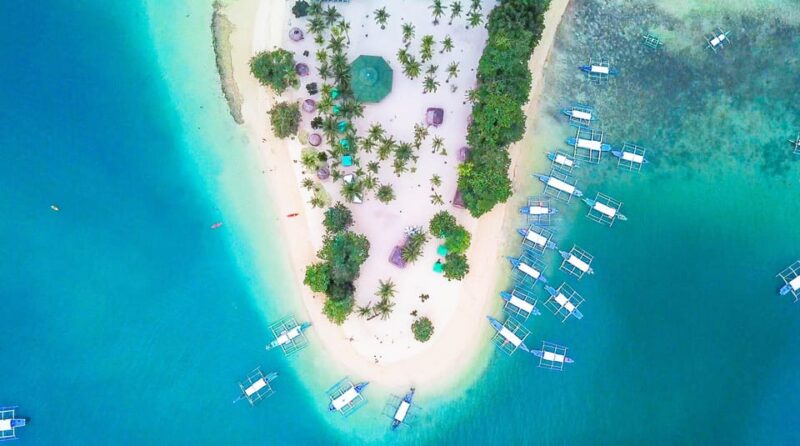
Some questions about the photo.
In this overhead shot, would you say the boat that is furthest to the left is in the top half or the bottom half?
bottom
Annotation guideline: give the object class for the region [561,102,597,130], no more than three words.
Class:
boat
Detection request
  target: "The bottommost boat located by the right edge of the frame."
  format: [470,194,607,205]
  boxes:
[778,258,800,301]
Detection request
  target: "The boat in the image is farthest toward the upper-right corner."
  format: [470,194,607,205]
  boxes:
[700,28,733,57]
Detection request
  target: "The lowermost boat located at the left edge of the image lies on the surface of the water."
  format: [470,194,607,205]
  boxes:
[0,402,27,444]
